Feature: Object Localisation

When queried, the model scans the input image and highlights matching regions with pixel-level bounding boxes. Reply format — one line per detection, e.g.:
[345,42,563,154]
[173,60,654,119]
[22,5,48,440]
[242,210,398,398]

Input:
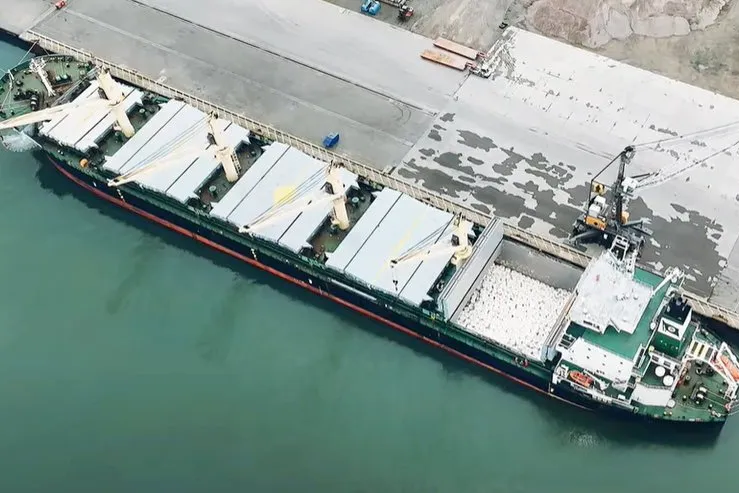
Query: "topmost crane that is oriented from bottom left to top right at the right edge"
[560,117,739,268]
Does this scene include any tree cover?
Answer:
No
